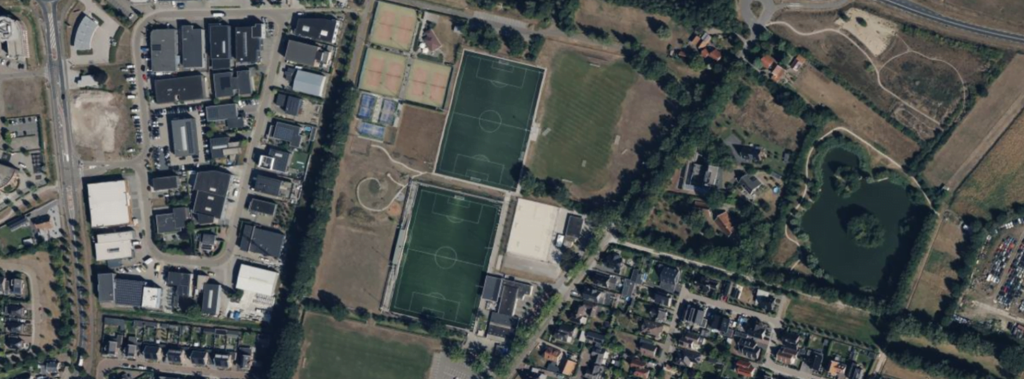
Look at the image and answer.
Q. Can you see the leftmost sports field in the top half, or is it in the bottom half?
bottom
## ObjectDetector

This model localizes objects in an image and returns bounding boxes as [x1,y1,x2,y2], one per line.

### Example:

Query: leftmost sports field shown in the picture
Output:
[292,312,434,379]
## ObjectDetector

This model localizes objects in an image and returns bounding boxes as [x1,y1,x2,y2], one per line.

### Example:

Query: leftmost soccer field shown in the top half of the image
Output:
[437,52,540,190]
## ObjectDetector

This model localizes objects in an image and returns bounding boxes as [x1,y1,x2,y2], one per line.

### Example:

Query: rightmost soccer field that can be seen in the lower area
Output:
[390,184,502,328]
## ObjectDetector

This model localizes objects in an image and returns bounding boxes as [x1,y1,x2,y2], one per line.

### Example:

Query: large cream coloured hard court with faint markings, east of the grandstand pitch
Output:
[500,199,568,283]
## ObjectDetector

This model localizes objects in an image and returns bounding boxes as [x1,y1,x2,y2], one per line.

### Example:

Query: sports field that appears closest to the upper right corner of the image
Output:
[522,49,668,200]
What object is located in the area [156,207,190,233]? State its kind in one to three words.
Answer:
building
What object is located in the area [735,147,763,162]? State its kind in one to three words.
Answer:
house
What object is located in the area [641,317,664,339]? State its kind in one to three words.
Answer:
house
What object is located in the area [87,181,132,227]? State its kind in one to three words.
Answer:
building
